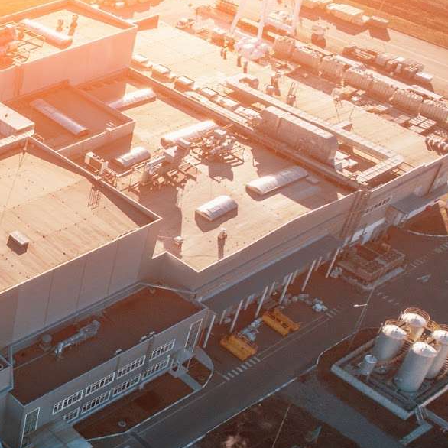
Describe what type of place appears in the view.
industrial area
